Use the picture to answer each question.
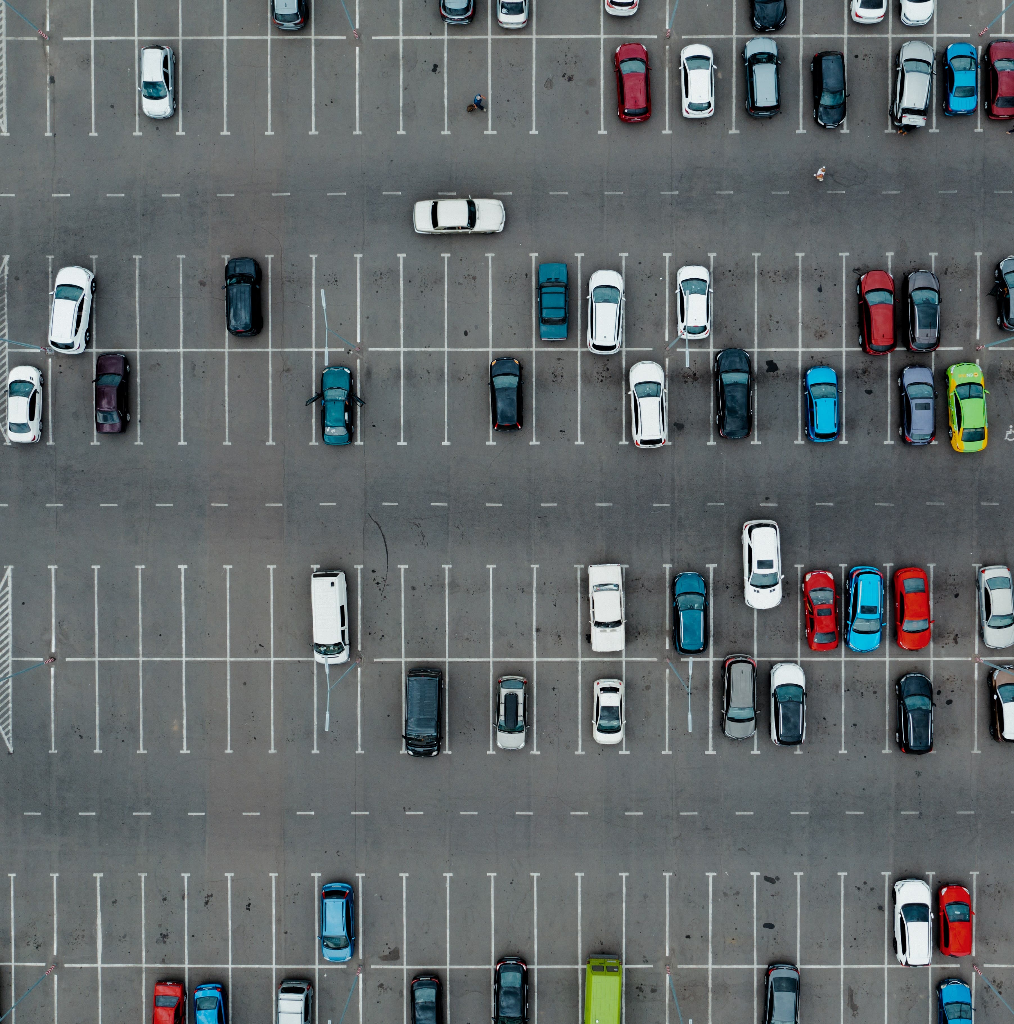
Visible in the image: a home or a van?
van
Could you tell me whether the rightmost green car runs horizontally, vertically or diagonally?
vertically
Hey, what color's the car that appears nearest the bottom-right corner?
blue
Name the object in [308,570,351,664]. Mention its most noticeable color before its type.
white van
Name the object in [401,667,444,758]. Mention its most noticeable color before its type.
black van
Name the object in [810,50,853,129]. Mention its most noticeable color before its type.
black car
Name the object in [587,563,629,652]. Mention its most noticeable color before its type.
white car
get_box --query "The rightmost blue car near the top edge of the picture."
[940,42,985,116]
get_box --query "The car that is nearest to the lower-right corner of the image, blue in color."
[935,977,979,1024]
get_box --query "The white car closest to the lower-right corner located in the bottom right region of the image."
[893,878,939,969]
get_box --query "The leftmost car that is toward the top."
[1,365,45,443]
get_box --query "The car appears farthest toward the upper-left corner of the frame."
[135,45,177,119]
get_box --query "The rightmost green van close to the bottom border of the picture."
[585,952,622,1024]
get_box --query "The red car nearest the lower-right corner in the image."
[936,884,979,958]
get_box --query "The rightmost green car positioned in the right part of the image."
[944,363,991,452]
